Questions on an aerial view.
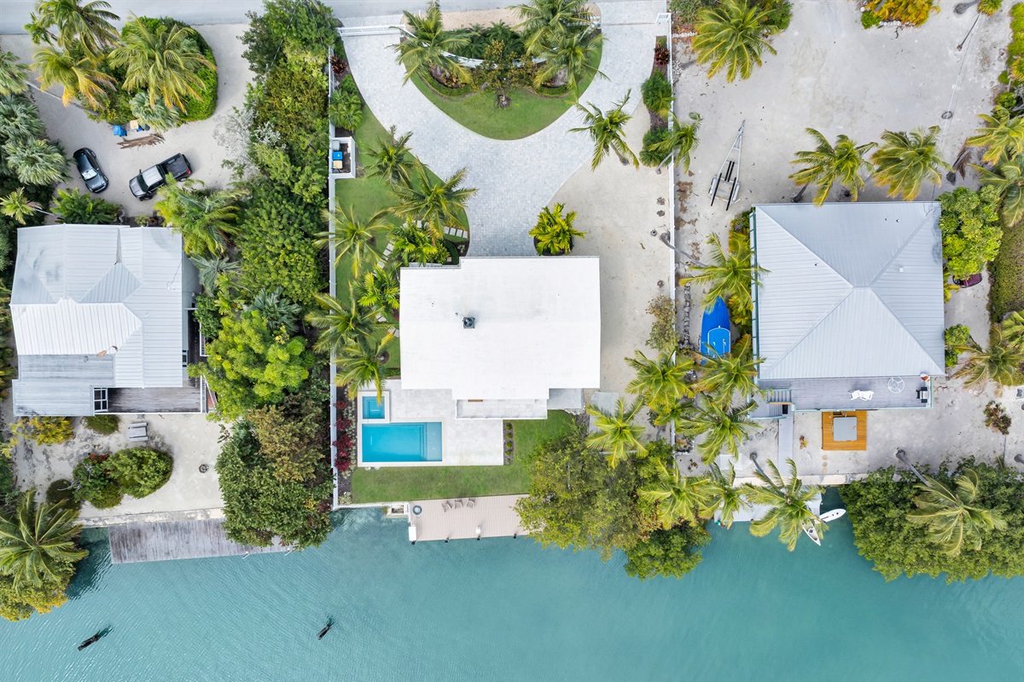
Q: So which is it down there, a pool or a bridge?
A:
pool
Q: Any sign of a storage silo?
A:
No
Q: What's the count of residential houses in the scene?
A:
3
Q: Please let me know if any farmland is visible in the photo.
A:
No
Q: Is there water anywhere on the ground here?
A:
Yes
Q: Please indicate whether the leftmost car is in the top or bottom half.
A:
top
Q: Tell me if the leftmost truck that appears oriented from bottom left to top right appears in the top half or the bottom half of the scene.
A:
top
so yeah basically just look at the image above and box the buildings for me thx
[400,255,601,419]
[10,223,216,417]
[739,201,945,417]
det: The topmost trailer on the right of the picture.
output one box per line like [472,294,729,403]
[710,120,742,210]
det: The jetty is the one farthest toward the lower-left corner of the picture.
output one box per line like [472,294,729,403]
[109,518,291,564]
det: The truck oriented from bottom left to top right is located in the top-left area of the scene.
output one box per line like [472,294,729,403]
[127,148,194,200]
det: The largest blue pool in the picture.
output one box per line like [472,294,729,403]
[358,419,446,466]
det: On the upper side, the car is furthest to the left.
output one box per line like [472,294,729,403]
[68,146,108,194]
